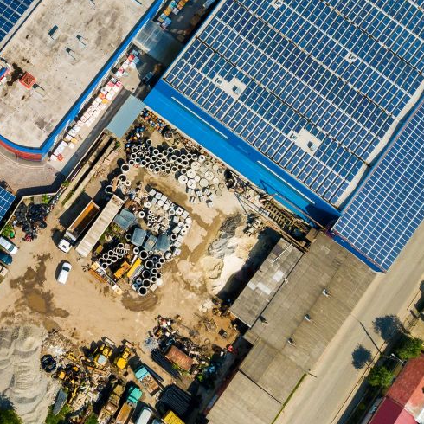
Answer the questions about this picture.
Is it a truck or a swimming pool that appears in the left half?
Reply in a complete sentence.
The one visible in the left half is a truck.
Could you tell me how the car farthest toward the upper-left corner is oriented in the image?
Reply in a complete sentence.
What the image shows is the car farthest toward the upper-left corner lying on a diagonal.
